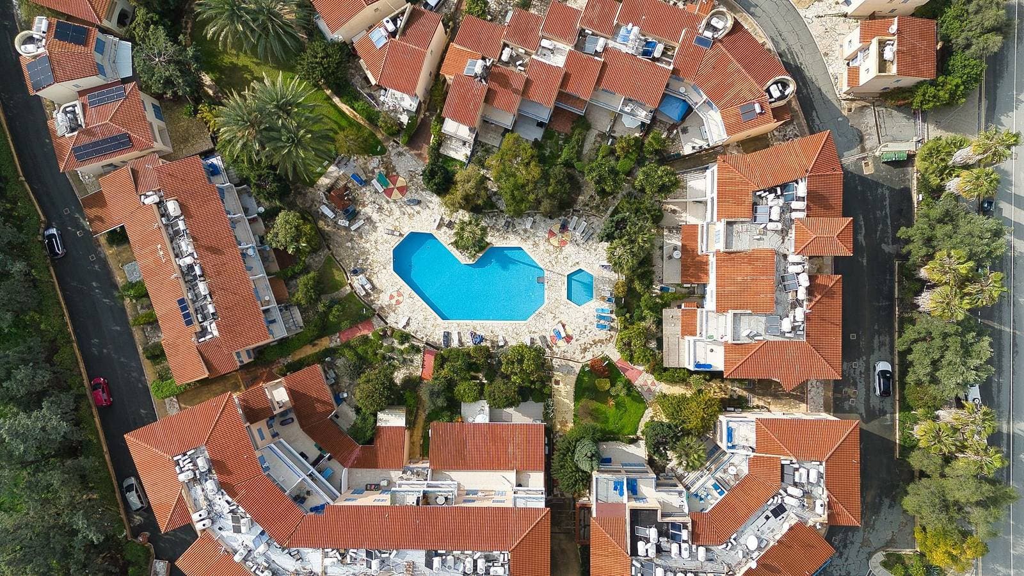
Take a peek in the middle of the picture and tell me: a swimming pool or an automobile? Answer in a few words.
swimming pool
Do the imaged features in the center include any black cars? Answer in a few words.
No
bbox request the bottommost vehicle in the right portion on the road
[872,360,893,397]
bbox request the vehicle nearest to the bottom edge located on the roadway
[123,476,149,512]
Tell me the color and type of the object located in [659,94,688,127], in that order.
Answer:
blue gazebo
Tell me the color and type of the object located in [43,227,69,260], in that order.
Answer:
black car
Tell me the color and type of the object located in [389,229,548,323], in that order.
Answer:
blue swimming pool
